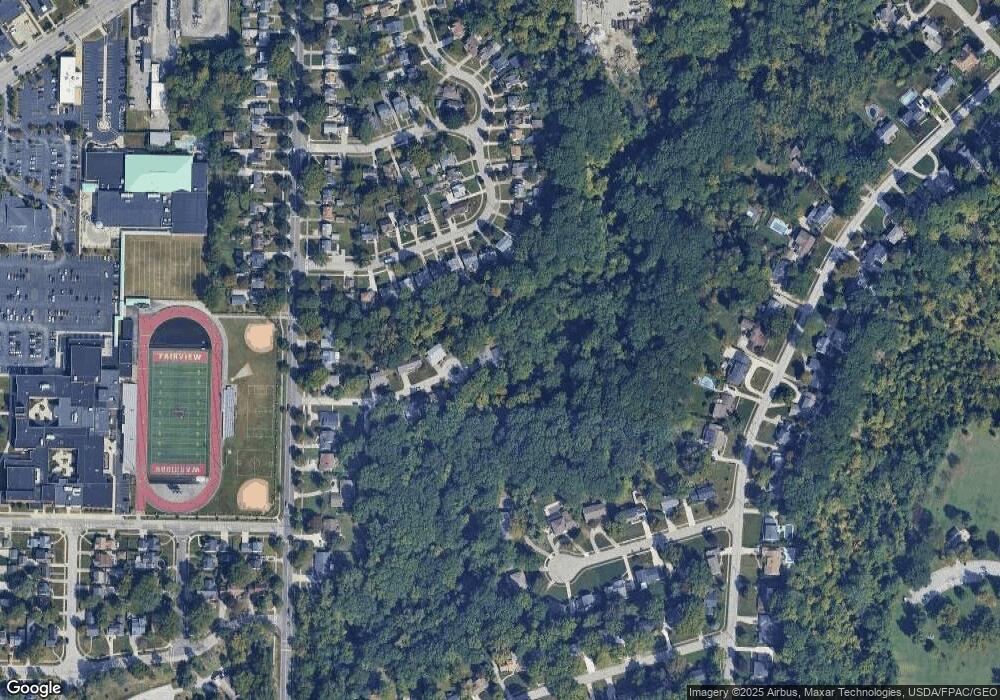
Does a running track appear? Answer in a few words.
Yes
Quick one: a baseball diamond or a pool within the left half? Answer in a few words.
baseball diamond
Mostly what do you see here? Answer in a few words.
trees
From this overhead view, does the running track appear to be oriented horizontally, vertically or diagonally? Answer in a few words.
vertically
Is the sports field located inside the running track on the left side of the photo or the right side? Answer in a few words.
left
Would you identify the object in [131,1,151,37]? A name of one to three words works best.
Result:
building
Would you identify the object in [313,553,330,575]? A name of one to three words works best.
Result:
house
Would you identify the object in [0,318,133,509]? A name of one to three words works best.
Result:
building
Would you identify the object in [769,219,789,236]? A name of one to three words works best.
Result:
swimming pool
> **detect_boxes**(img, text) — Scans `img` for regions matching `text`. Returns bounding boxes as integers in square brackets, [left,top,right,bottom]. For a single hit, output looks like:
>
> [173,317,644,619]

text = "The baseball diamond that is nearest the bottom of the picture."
[236,477,271,512]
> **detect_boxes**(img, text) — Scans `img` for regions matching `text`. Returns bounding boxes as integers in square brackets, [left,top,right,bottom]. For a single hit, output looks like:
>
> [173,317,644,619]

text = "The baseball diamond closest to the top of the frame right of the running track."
[244,321,276,353]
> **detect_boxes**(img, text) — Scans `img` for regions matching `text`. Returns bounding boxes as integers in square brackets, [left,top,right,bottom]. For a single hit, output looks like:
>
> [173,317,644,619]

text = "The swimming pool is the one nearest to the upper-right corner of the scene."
[899,89,919,106]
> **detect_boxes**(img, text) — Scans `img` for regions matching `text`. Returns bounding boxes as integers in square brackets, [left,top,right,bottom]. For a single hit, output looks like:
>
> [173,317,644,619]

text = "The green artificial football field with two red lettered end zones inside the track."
[148,351,212,475]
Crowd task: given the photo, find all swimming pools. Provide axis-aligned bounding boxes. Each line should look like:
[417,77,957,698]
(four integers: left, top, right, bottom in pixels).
[866,103,879,120]
[769,219,789,236]
[782,550,794,564]
[899,89,919,106]
[700,377,712,388]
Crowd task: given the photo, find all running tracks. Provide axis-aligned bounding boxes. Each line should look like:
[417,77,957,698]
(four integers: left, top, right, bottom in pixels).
[136,300,229,514]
